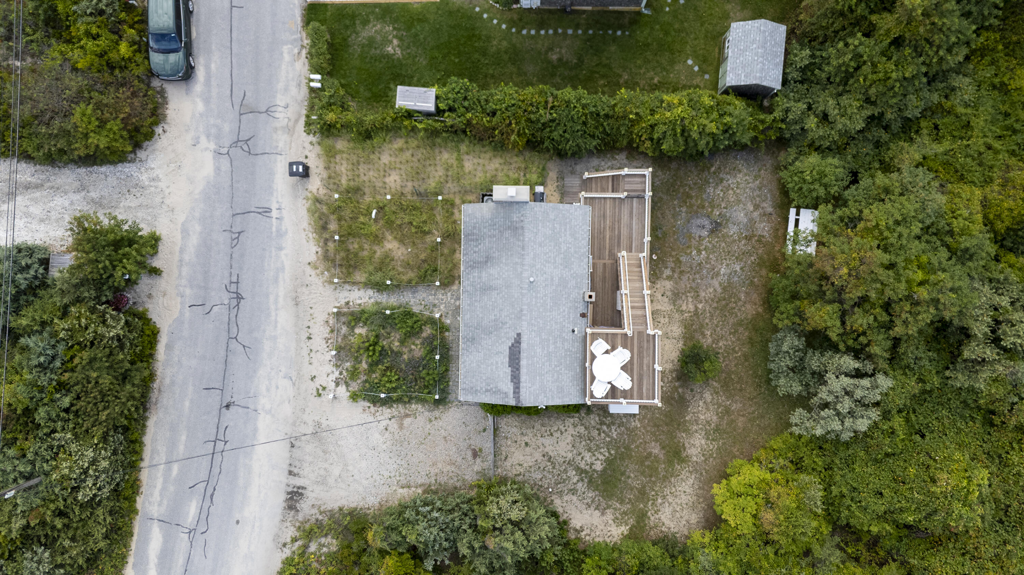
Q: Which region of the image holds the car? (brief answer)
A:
top left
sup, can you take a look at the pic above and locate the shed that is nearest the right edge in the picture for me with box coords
[717,19,786,98]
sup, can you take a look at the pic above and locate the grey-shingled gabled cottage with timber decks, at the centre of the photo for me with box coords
[456,185,595,409]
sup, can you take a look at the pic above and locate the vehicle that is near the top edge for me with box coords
[141,0,195,81]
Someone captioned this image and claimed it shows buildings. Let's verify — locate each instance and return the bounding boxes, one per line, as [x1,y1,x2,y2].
[518,0,647,15]
[717,19,786,98]
[456,185,595,409]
